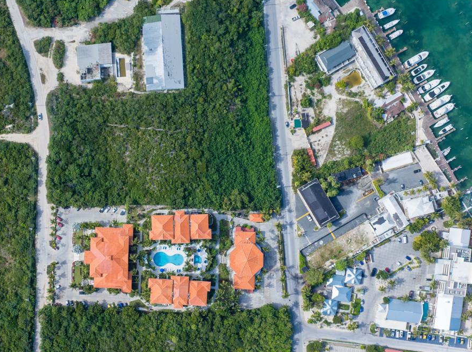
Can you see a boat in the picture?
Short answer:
Yes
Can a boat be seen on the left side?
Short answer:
No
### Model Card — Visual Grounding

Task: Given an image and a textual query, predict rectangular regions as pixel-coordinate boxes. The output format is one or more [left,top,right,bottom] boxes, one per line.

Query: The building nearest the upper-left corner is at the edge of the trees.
[77,43,113,81]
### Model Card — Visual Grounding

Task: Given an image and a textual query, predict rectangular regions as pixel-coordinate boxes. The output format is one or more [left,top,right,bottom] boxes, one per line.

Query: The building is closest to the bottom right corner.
[429,294,464,331]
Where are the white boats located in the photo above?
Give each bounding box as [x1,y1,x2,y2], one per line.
[389,30,402,40]
[428,96,451,110]
[433,117,450,128]
[439,124,453,134]
[376,8,396,20]
[382,20,399,30]
[432,103,454,118]
[402,51,429,69]
[423,82,449,101]
[413,70,436,84]
[418,79,441,94]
